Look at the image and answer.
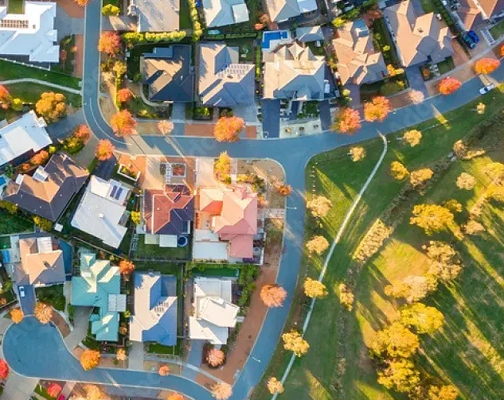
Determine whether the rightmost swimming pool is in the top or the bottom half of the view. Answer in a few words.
top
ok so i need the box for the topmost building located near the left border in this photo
[0,1,59,62]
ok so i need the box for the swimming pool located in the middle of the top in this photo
[261,30,292,51]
